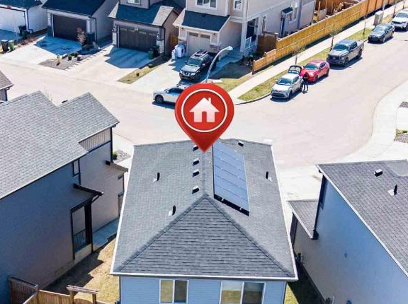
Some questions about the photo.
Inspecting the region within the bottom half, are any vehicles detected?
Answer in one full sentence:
No, looking within the bottom half, there is no vehicle.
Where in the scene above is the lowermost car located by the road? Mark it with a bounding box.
[147,78,202,104]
